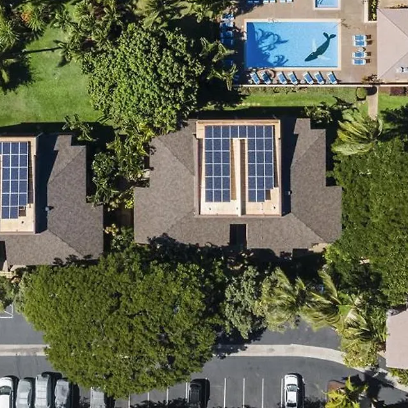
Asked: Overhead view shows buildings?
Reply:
Yes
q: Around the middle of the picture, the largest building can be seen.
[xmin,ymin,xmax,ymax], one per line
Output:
[134,115,341,258]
